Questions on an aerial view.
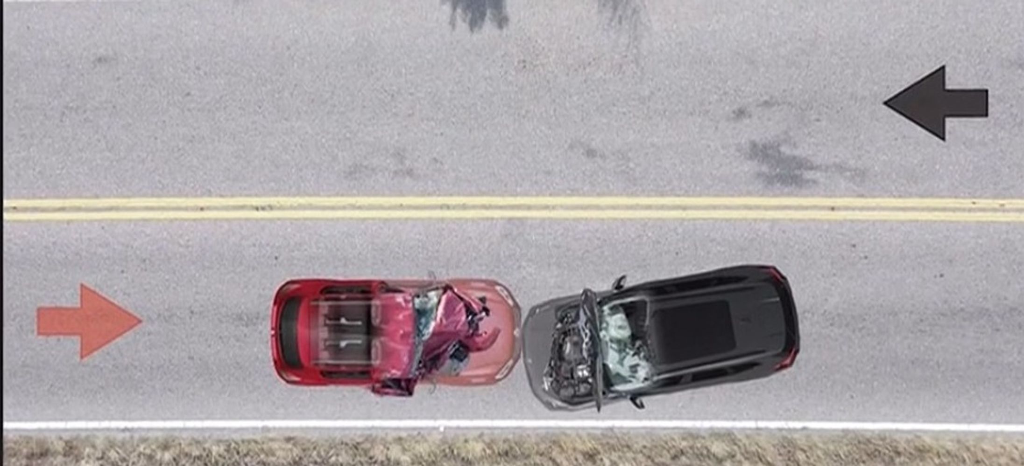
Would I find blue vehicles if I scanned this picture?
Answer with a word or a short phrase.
No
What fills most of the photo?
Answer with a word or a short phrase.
paved ground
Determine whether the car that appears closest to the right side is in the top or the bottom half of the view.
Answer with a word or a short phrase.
bottom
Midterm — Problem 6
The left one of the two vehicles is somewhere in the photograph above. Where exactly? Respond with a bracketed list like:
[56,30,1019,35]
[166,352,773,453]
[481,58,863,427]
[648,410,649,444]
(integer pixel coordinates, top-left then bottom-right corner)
[271,272,521,397]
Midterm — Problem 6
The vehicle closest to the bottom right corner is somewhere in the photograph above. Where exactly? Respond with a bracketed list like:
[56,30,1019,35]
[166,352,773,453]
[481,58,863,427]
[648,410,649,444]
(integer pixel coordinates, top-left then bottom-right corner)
[521,265,802,414]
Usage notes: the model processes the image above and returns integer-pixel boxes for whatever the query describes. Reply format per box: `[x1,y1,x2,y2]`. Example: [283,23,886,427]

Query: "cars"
[521,265,802,414]
[271,272,521,397]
